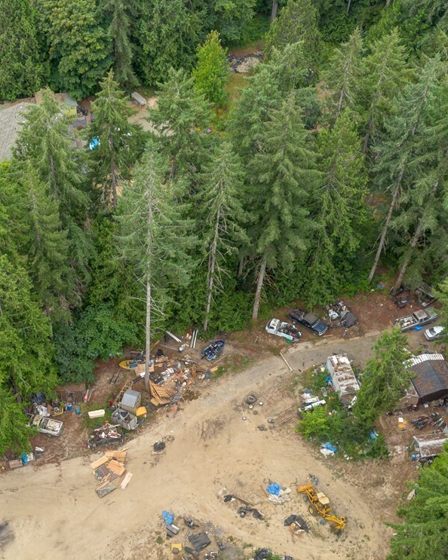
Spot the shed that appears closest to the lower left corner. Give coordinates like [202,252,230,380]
[119,387,143,409]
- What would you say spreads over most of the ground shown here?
trees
